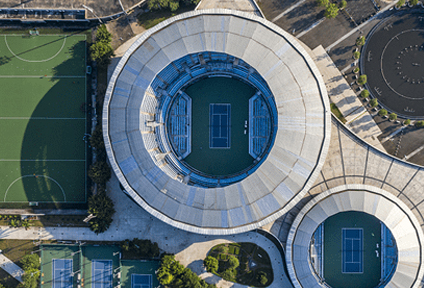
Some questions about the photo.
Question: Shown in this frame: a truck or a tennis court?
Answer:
tennis court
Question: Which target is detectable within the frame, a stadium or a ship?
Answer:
stadium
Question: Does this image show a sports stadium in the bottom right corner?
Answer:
Yes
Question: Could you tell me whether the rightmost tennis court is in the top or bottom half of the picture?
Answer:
bottom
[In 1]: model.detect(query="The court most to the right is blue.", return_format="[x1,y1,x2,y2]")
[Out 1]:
[340,228,365,273]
